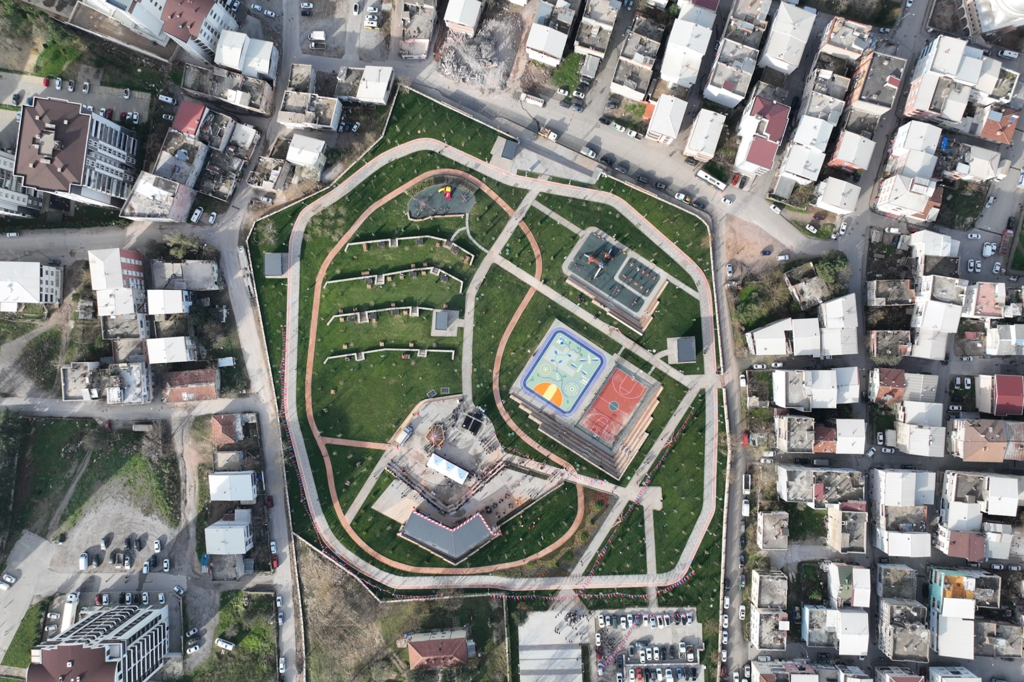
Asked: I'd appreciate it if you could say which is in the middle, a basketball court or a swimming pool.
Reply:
basketball court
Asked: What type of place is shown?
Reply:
residential area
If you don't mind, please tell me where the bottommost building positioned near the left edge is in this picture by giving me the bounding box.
[25,607,170,682]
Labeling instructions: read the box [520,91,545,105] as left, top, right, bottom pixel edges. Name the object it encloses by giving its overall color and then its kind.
white vehicle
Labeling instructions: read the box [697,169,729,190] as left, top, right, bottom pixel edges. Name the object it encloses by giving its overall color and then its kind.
white bus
